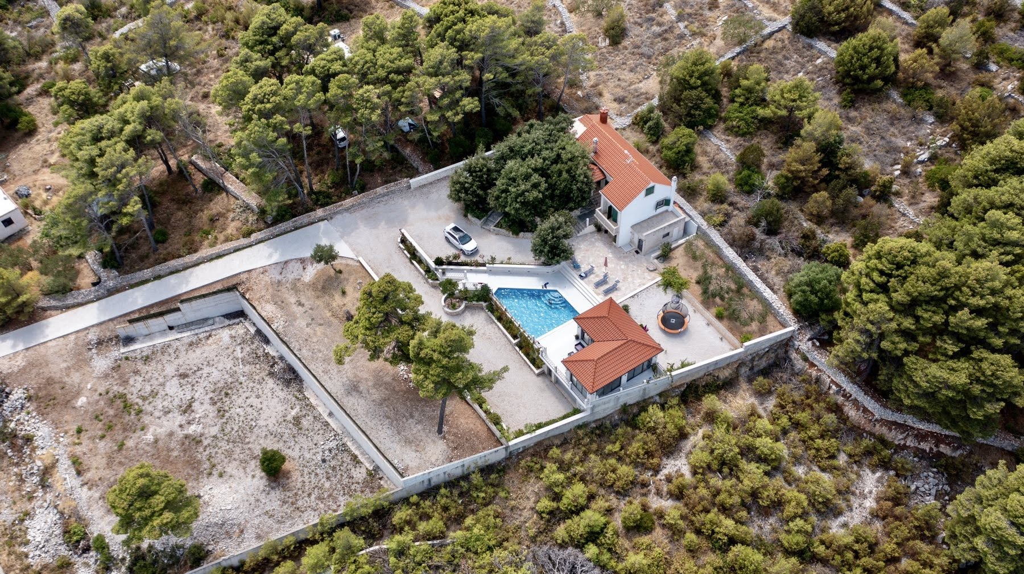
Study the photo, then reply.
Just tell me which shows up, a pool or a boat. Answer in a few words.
pool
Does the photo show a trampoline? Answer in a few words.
Yes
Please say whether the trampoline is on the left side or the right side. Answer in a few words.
right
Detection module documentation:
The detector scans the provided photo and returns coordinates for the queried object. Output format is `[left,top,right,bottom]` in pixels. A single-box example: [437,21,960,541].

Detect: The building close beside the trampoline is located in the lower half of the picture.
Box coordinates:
[560,296,666,406]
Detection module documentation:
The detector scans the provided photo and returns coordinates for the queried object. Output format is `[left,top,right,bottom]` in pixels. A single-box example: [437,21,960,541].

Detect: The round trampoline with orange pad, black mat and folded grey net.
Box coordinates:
[656,295,691,338]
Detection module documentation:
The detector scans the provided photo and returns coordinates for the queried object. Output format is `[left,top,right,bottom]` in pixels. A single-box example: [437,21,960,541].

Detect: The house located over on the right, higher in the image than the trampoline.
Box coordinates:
[562,112,691,254]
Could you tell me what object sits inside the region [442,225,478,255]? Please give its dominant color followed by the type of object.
white car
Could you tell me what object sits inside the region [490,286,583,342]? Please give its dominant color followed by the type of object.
blue swimming pool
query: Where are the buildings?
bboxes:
[562,112,691,254]
[560,296,666,406]
[0,185,23,234]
